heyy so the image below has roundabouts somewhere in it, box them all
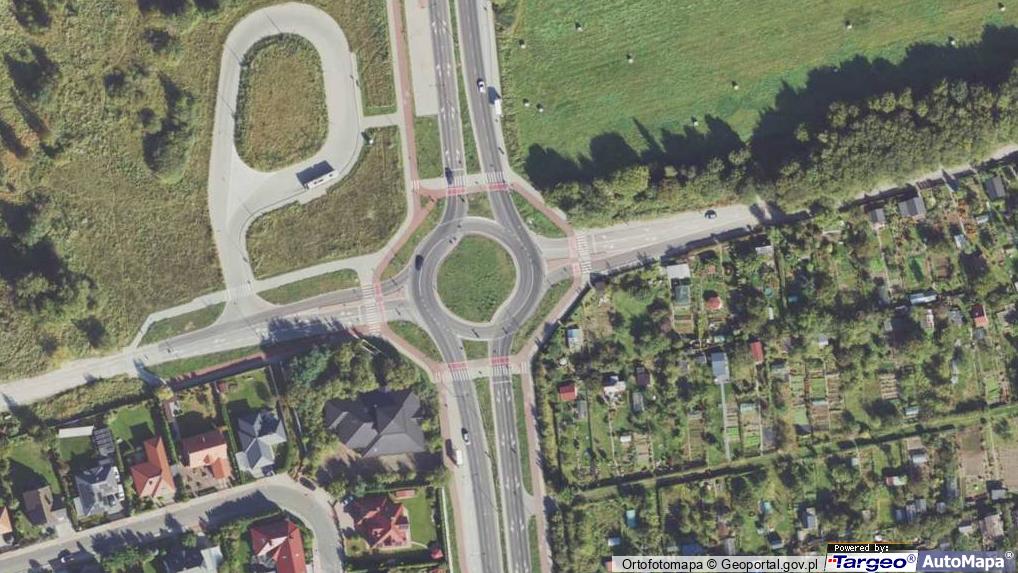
[410,216,546,341]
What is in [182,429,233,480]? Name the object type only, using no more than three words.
house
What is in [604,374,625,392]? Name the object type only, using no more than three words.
building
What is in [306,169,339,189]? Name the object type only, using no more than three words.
vehicle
